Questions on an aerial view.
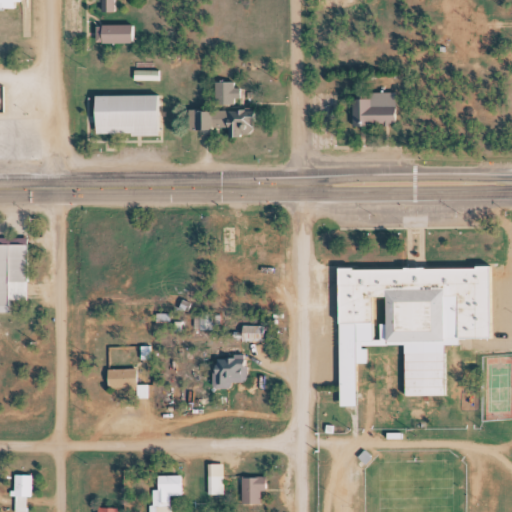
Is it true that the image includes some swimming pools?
No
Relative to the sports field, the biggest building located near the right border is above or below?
above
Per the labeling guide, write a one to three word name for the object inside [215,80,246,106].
house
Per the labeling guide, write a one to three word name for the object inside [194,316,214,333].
shed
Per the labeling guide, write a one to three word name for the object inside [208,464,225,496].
house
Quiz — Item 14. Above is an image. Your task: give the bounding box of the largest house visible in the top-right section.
[352,90,398,126]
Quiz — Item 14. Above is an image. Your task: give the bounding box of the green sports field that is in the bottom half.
[366,451,466,512]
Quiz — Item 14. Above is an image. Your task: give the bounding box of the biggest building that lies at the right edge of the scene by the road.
[337,266,492,406]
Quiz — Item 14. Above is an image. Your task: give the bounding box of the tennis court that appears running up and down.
[487,356,512,420]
